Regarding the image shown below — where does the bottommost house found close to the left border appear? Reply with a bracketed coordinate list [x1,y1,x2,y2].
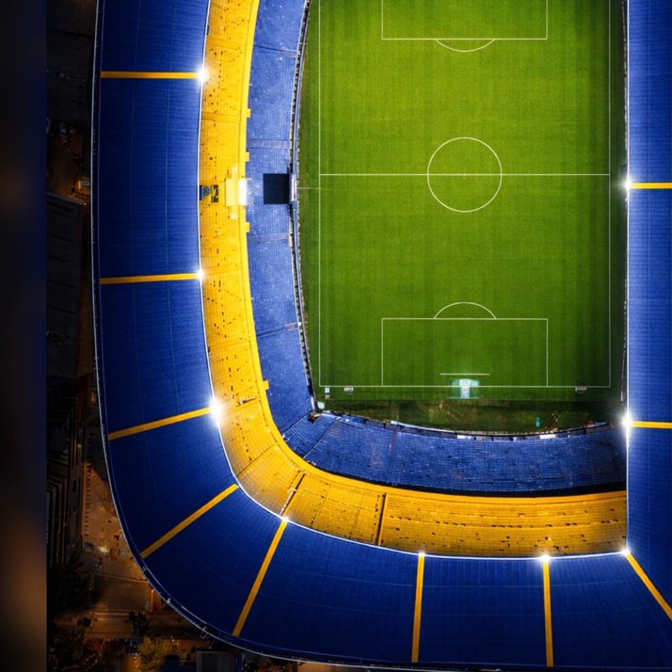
[29,392,90,573]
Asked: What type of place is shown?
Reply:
sports ground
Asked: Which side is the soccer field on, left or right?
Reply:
right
